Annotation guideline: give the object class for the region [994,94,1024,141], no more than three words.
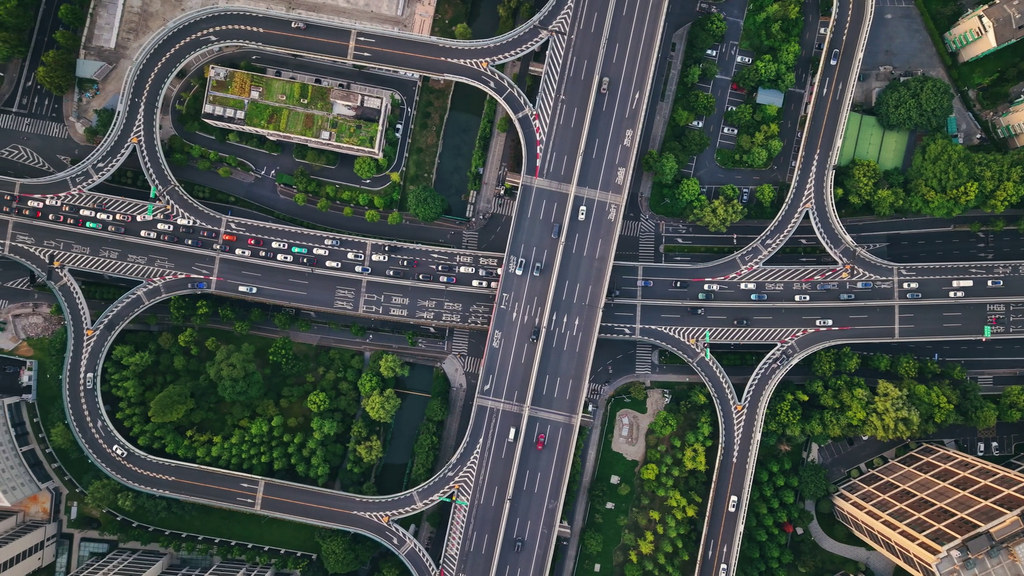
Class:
building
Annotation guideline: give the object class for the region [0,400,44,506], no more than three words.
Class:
building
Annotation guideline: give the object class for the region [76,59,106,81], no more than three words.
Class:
shed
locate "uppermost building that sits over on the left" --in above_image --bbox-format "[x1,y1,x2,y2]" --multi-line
[92,0,131,51]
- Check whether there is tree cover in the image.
Yes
